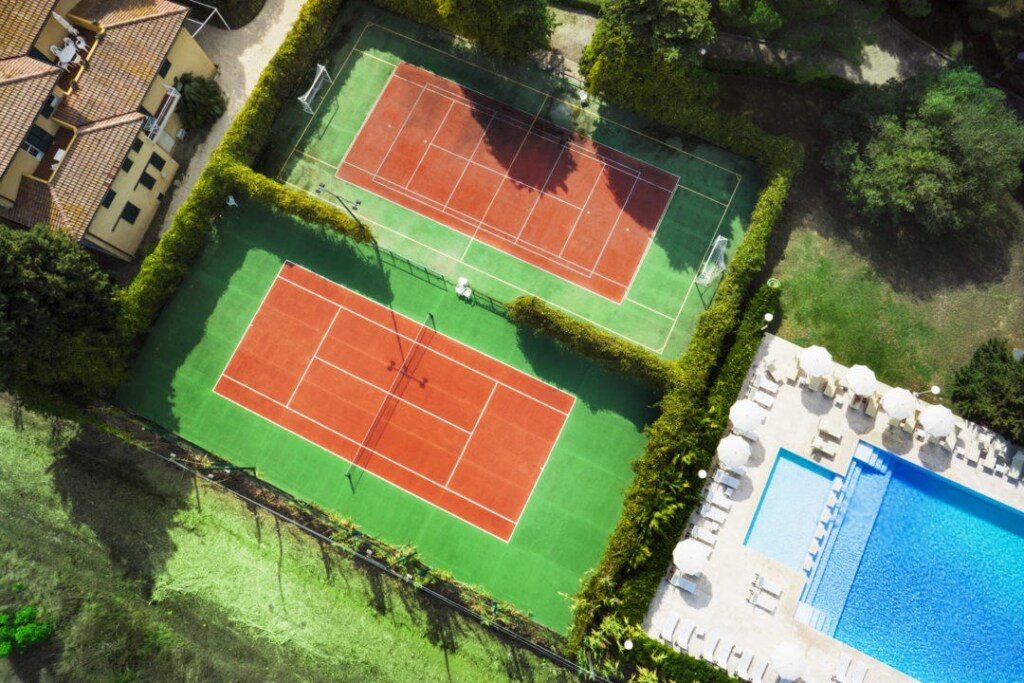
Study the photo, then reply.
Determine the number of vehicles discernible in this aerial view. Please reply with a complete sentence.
No vehicles are visible.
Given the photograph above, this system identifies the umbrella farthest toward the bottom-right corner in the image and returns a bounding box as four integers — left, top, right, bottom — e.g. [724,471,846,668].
[768,636,809,678]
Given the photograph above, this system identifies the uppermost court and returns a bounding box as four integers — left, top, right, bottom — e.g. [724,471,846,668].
[258,10,757,370]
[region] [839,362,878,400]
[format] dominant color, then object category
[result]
white umbrella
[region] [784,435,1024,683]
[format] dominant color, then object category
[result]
blue swimming pool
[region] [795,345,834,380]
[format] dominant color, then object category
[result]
white umbrella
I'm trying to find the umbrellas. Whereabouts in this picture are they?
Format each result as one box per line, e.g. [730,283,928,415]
[670,536,709,576]
[795,345,834,380]
[713,432,752,469]
[725,398,763,435]
[839,362,878,400]
[877,385,917,423]
[916,401,957,439]
[768,636,809,678]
